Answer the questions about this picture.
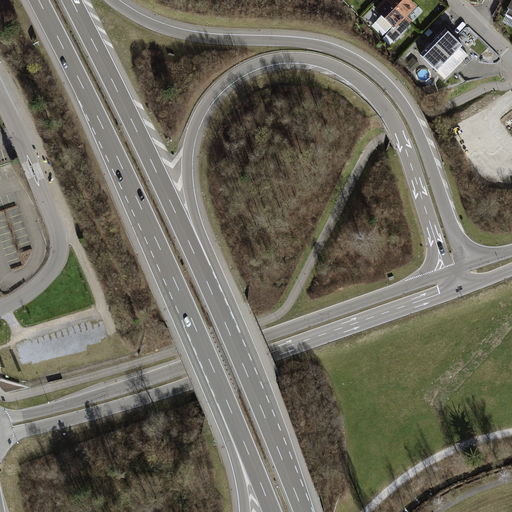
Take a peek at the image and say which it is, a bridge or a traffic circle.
bridge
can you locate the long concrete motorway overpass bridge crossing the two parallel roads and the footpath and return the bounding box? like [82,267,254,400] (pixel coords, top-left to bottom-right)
[170,312,278,396]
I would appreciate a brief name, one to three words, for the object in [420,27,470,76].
house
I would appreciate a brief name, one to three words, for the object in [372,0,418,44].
house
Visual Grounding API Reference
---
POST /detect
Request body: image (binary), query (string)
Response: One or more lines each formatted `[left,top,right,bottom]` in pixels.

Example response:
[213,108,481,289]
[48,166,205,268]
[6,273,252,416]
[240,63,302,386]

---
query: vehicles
[184,318,191,329]
[60,58,69,70]
[438,243,444,254]
[452,126,464,142]
[138,190,145,201]
[115,171,123,182]
[454,22,466,33]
